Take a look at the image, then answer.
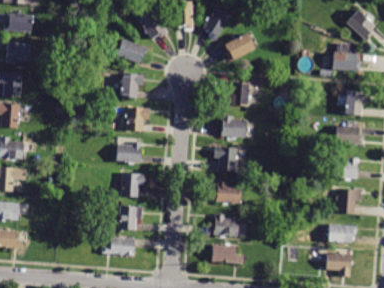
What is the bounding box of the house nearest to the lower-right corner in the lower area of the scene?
[327,248,355,277]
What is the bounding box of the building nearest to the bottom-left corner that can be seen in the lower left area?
[0,229,21,248]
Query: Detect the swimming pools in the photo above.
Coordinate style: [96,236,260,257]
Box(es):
[298,56,314,72]
[274,95,284,107]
